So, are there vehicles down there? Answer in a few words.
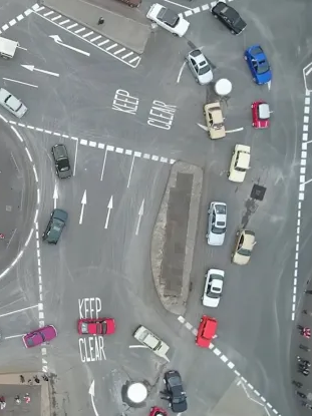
Yes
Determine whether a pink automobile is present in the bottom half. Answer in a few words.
Yes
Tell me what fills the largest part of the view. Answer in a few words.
paved ground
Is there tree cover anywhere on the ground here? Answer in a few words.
No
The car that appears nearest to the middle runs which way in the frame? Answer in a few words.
up and down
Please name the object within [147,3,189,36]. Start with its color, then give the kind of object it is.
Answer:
white car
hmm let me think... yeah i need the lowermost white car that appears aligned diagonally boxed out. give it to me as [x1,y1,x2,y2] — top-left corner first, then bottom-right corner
[132,325,171,357]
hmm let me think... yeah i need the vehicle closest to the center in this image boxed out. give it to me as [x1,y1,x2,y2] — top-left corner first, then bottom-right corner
[206,201,227,245]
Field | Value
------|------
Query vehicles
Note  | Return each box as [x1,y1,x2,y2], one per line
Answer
[211,1,244,34]
[250,100,271,129]
[22,324,57,349]
[147,3,189,36]
[245,44,271,84]
[52,143,73,179]
[206,201,227,245]
[77,317,116,336]
[117,0,141,7]
[231,229,255,265]
[203,102,226,139]
[44,208,68,245]
[0,88,28,119]
[194,315,218,348]
[132,325,171,357]
[0,35,19,59]
[201,268,224,308]
[227,144,250,182]
[187,49,212,85]
[159,369,187,413]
